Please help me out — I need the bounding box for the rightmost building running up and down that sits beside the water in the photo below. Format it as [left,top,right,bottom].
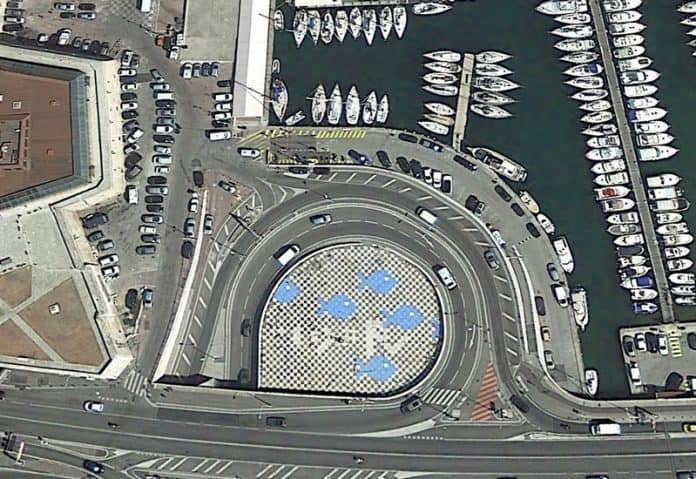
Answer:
[234,0,271,118]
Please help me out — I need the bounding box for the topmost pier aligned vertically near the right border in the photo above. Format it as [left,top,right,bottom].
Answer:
[589,0,674,324]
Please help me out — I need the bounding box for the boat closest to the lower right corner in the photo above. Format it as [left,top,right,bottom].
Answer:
[585,367,598,395]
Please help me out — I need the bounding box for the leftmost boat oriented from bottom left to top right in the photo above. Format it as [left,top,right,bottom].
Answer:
[287,110,306,124]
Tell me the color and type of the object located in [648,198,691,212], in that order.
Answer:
white boat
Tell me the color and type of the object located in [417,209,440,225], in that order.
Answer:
white vehicle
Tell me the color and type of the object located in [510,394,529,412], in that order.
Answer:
black car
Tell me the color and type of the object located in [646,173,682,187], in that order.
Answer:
white boat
